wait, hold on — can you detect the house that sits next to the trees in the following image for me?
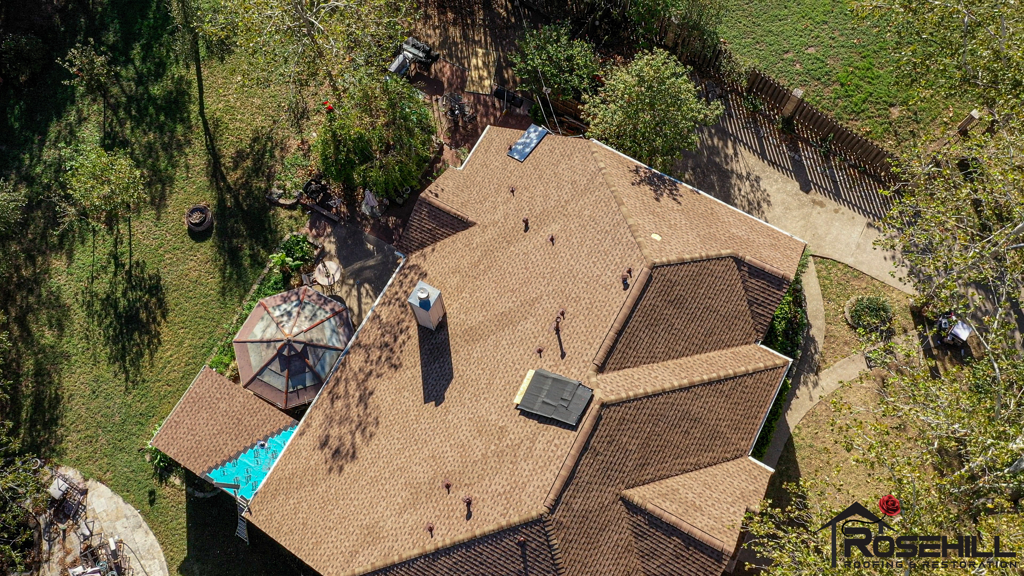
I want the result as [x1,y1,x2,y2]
[148,124,808,576]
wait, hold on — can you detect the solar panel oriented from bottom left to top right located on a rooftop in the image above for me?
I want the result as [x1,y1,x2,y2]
[508,124,549,164]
